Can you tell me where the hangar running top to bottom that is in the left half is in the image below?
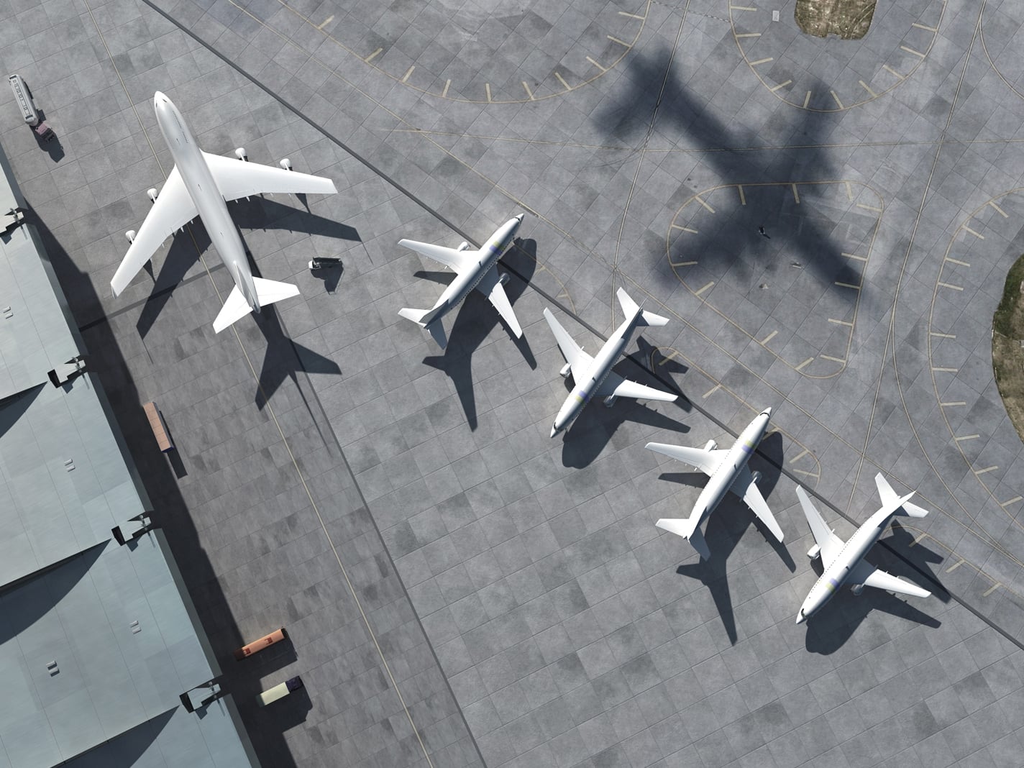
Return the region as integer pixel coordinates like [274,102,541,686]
[0,144,260,768]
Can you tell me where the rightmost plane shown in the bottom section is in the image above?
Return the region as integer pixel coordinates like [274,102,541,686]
[797,477,933,623]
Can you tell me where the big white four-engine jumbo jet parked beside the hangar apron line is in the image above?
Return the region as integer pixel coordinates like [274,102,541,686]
[114,92,340,336]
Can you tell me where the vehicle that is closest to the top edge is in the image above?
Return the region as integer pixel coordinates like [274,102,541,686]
[11,77,57,144]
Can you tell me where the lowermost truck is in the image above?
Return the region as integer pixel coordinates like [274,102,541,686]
[255,674,306,706]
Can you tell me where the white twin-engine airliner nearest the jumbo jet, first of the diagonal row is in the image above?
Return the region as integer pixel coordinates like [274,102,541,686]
[398,214,524,352]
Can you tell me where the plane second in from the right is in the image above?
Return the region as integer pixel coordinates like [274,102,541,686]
[646,407,788,562]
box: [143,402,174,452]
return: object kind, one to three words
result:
trailer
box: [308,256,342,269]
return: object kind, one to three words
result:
vehicle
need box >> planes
[646,407,788,562]
[114,92,340,336]
[398,214,524,352]
[797,477,933,623]
[543,288,677,437]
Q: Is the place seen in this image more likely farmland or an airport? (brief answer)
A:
airport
